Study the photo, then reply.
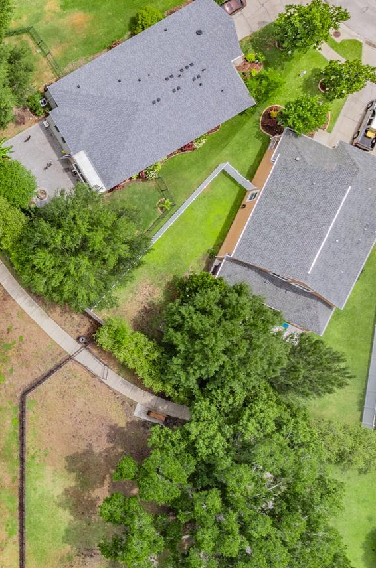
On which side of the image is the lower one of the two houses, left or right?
right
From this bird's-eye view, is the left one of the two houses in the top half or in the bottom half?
top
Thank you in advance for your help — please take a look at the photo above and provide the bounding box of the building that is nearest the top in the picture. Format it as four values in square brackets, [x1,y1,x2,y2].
[46,0,256,195]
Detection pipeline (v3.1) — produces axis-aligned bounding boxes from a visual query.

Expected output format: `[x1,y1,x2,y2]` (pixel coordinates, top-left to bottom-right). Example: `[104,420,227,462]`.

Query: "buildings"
[199,126,376,335]
[46,0,256,195]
